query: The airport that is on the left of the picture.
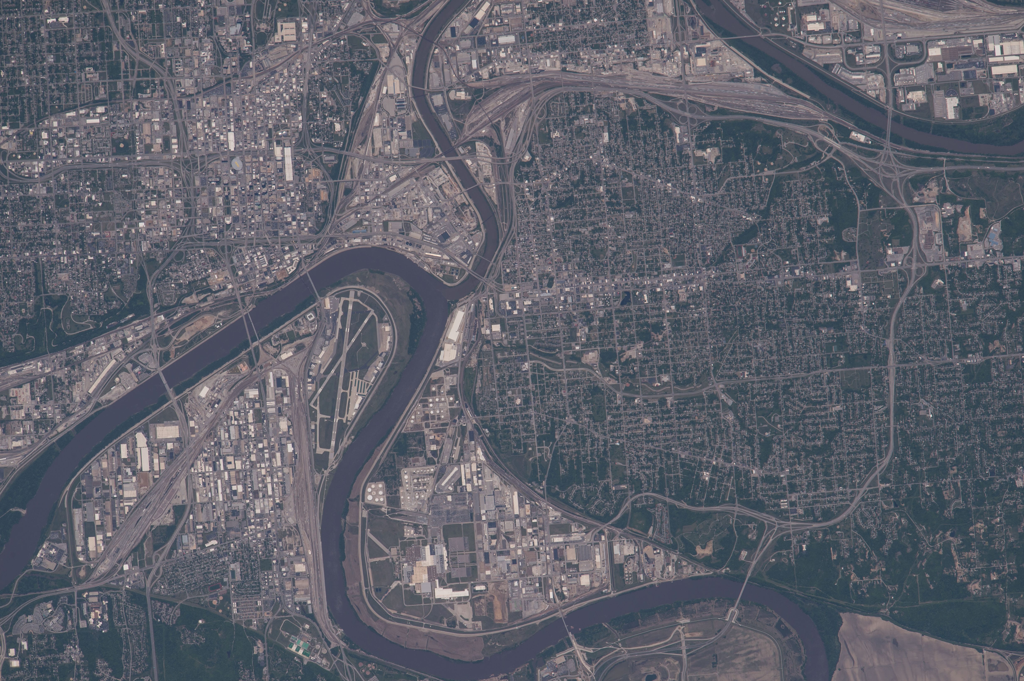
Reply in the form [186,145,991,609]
[310,287,396,459]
